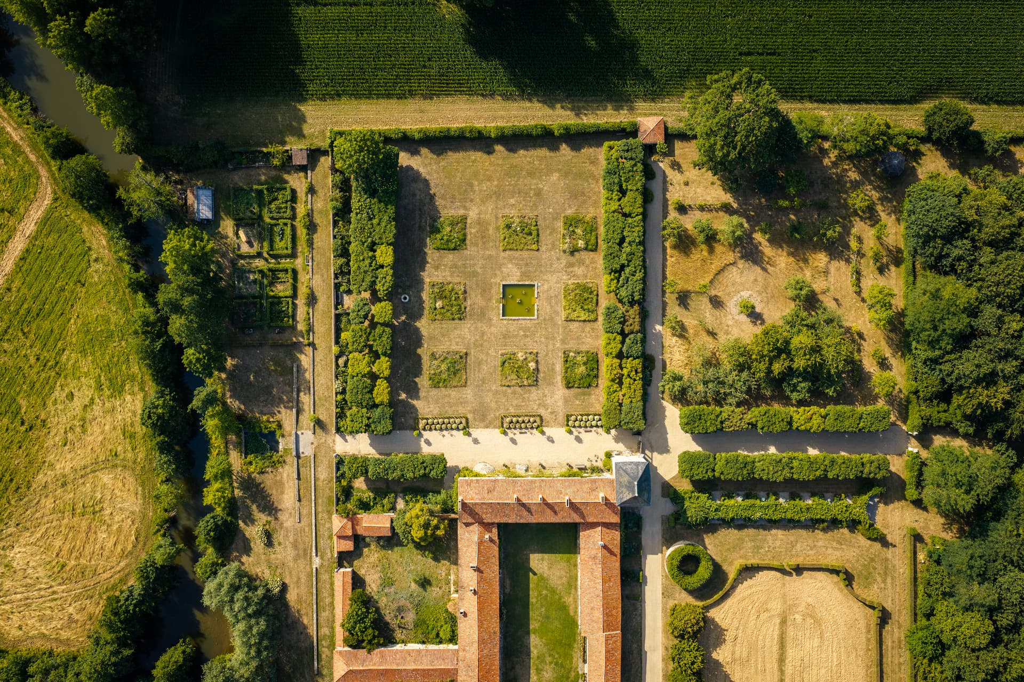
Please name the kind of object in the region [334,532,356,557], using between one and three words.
shed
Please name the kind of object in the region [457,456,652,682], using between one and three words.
house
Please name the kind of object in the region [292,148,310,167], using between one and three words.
shed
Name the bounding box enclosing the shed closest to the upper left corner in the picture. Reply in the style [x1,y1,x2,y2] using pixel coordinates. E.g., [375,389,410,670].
[188,186,219,222]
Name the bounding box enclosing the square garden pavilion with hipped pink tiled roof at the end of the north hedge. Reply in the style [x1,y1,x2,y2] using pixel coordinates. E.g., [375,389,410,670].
[637,116,665,147]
